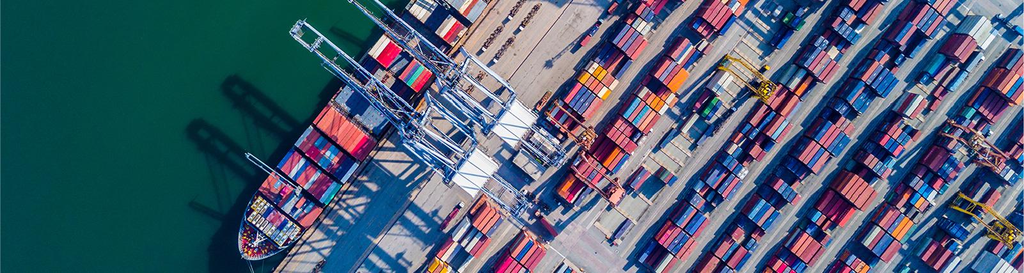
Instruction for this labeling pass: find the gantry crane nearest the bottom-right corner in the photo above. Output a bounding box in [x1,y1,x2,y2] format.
[941,191,1024,250]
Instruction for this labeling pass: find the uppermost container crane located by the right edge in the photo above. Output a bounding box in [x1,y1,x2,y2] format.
[930,119,1017,173]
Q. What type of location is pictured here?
port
